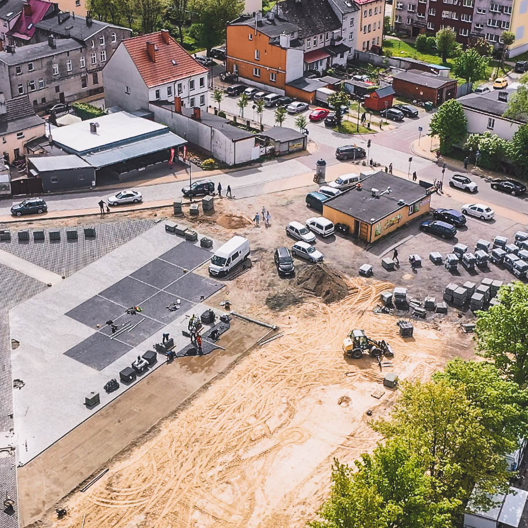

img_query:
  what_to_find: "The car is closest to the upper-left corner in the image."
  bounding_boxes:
[42,101,73,117]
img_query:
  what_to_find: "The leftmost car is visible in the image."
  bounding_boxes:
[10,195,48,216]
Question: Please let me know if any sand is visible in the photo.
Yes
